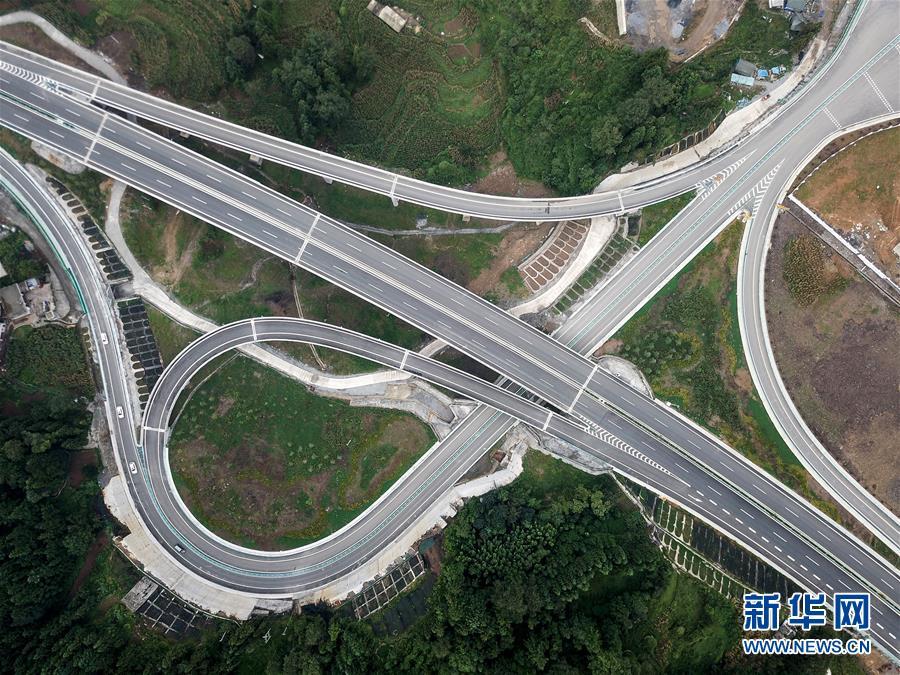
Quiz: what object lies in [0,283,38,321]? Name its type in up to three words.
house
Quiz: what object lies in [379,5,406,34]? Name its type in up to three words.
shed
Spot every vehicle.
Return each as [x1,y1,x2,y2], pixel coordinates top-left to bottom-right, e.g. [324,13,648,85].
[100,332,107,345]
[173,543,184,554]
[129,461,136,474]
[115,406,122,418]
